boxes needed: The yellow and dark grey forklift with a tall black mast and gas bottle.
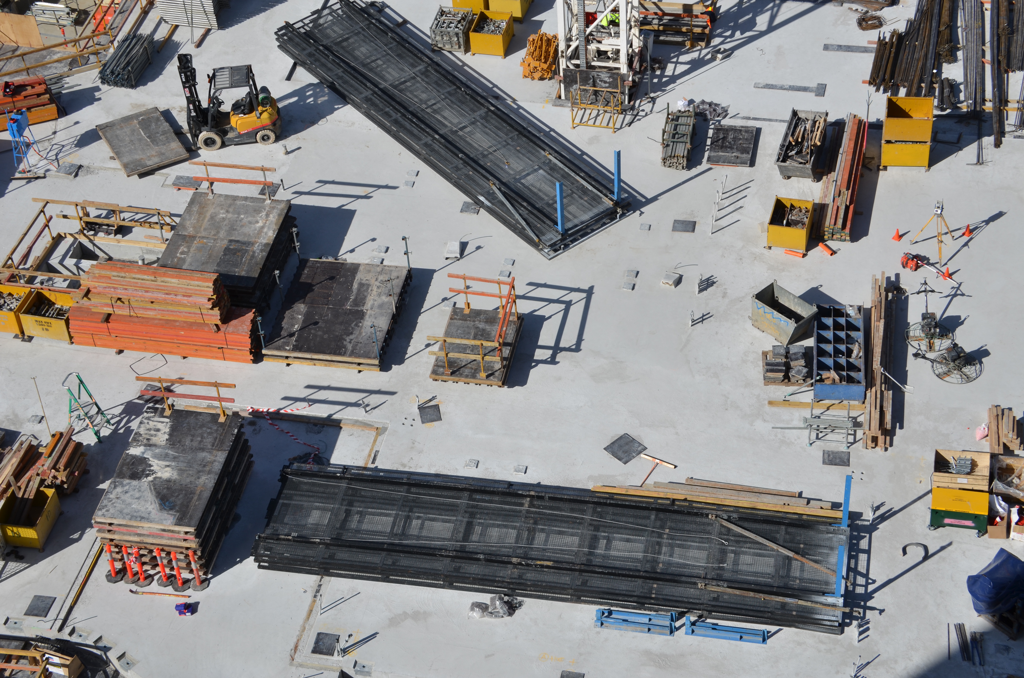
[175,39,281,153]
